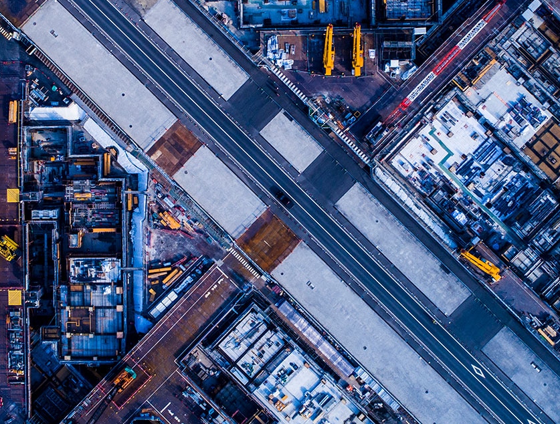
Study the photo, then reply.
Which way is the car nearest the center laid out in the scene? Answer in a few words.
on a diagonal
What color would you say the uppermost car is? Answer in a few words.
black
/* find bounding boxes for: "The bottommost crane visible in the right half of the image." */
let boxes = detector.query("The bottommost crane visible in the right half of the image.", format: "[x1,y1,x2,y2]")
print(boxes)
[461,255,501,283]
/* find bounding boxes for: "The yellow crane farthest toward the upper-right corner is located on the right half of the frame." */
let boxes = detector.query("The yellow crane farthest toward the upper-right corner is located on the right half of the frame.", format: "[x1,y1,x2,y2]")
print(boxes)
[348,23,367,76]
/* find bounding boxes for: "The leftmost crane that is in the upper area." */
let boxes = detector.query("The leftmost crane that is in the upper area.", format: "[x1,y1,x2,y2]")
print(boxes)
[319,24,339,75]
